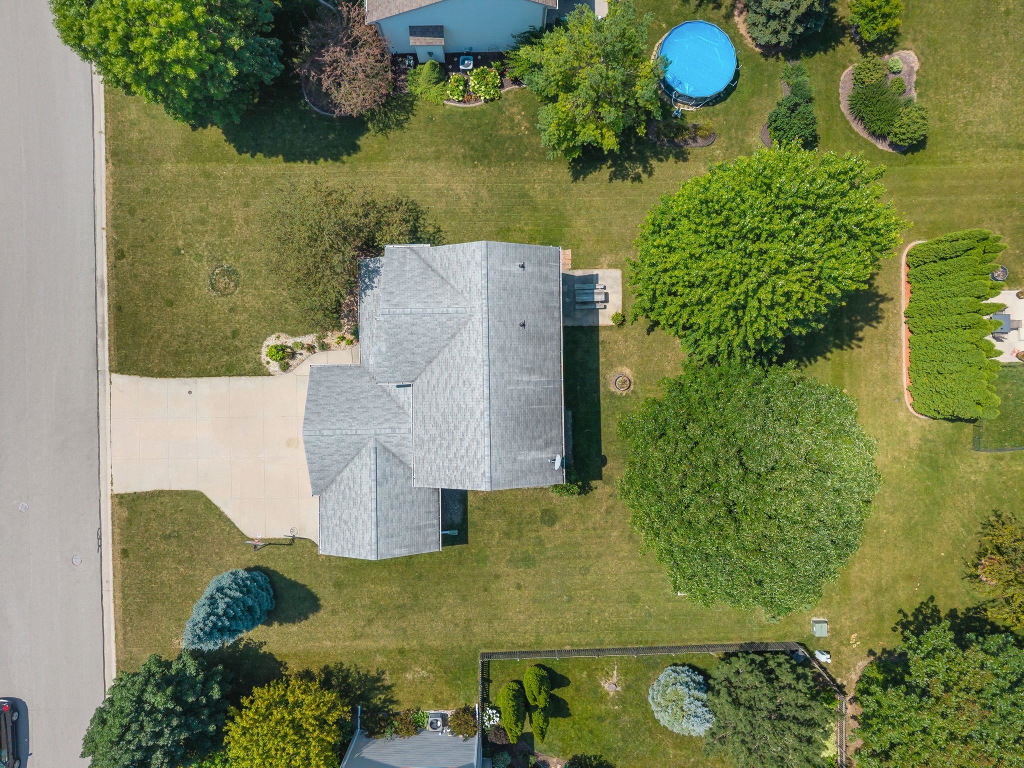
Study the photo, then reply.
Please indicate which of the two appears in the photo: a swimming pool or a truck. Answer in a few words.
swimming pool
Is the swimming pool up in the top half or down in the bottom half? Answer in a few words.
top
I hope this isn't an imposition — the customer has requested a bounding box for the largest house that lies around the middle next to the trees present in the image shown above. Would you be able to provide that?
[302,240,568,559]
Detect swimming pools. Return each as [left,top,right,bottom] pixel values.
[652,19,742,110]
